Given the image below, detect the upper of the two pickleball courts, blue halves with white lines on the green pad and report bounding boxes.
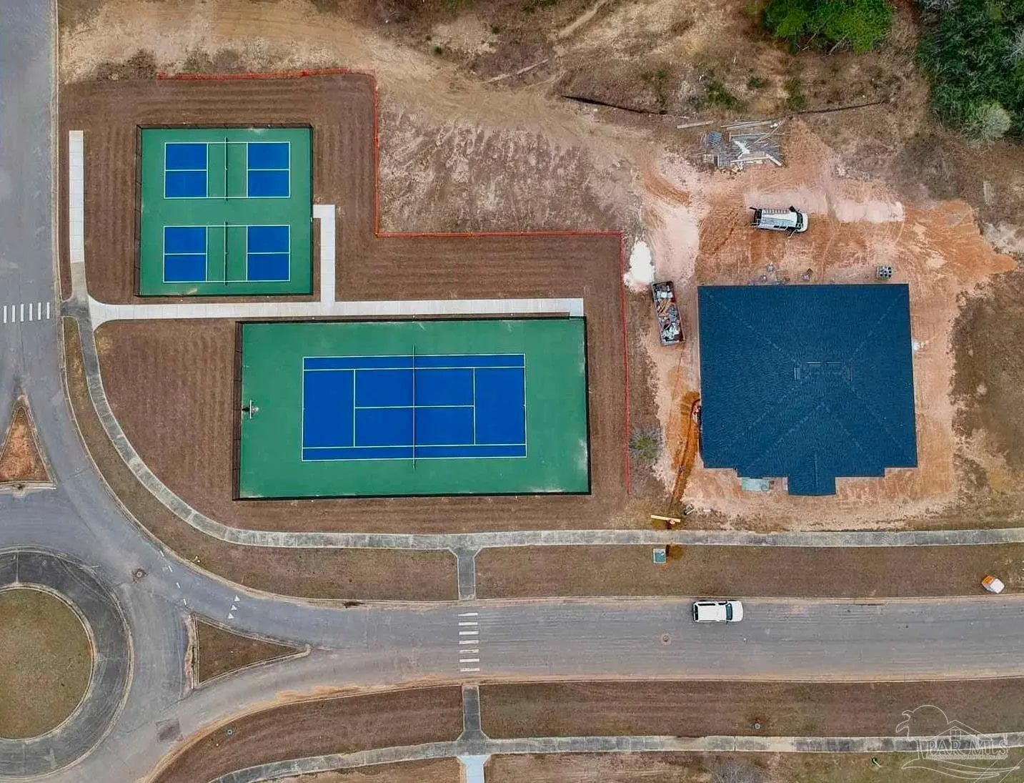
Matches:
[141,128,312,212]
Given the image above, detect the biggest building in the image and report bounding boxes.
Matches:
[697,283,918,495]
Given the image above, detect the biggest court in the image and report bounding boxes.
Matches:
[241,320,588,498]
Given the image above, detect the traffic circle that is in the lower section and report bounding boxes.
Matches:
[0,544,135,782]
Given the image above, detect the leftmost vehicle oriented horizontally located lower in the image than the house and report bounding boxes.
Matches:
[692,600,743,623]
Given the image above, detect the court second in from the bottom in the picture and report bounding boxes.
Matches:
[139,211,312,295]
